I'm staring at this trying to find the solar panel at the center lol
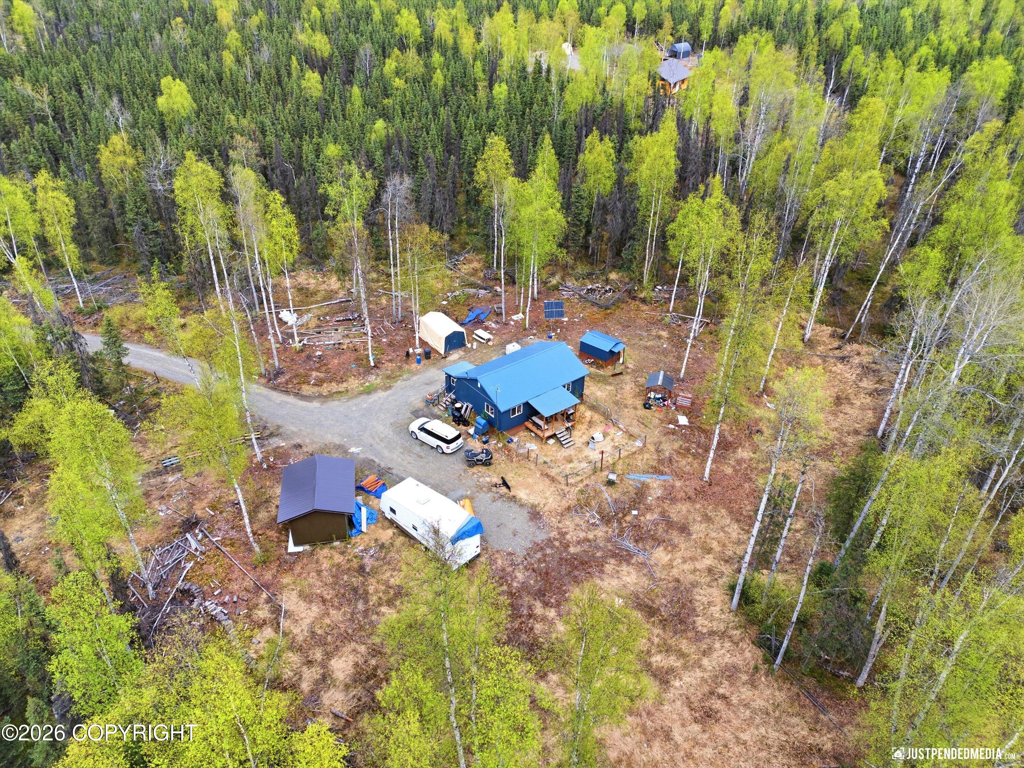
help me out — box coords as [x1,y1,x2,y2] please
[542,302,562,331]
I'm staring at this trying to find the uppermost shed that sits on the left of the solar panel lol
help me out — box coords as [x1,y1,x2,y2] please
[419,314,466,354]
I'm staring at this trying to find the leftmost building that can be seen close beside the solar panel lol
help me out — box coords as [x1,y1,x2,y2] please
[438,342,590,448]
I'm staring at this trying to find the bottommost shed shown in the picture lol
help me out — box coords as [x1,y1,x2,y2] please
[277,455,355,549]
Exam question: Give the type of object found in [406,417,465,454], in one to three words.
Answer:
car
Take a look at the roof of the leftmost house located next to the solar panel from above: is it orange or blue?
blue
